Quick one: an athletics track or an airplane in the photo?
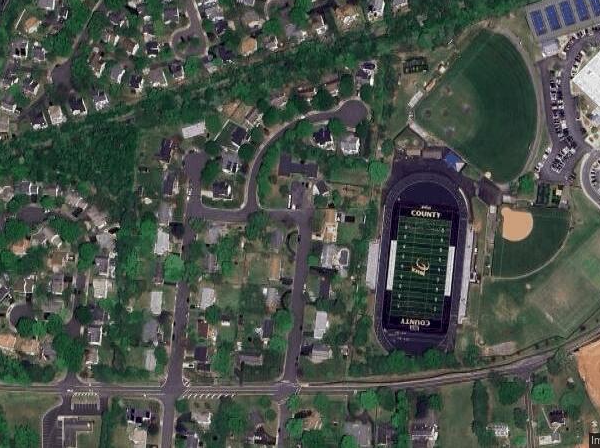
athletics track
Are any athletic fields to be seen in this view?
Yes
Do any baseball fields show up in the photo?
Yes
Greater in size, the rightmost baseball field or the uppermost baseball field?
the uppermost baseball field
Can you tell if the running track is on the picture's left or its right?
right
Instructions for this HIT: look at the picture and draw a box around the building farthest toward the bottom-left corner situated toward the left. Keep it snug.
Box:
[64,418,94,448]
